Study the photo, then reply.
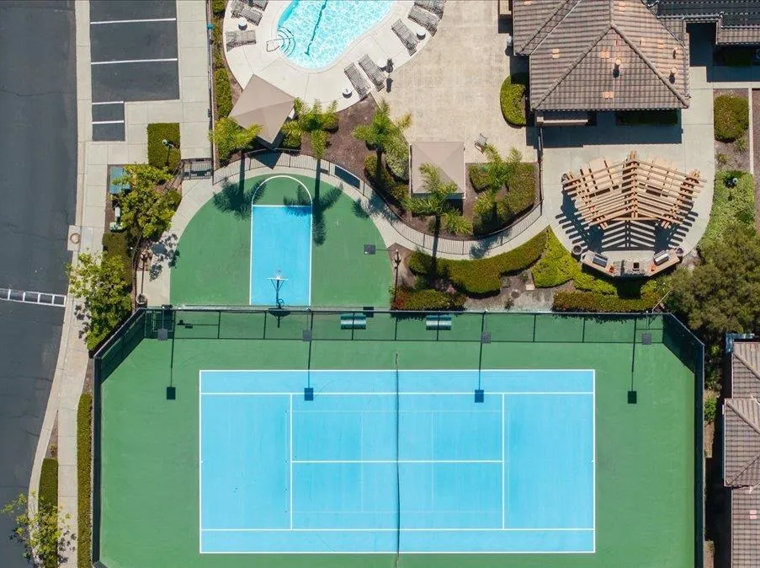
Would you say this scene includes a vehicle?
No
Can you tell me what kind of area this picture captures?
sports ground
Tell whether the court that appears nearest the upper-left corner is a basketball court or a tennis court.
basketball court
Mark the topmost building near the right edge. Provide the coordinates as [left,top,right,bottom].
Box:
[499,0,760,128]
